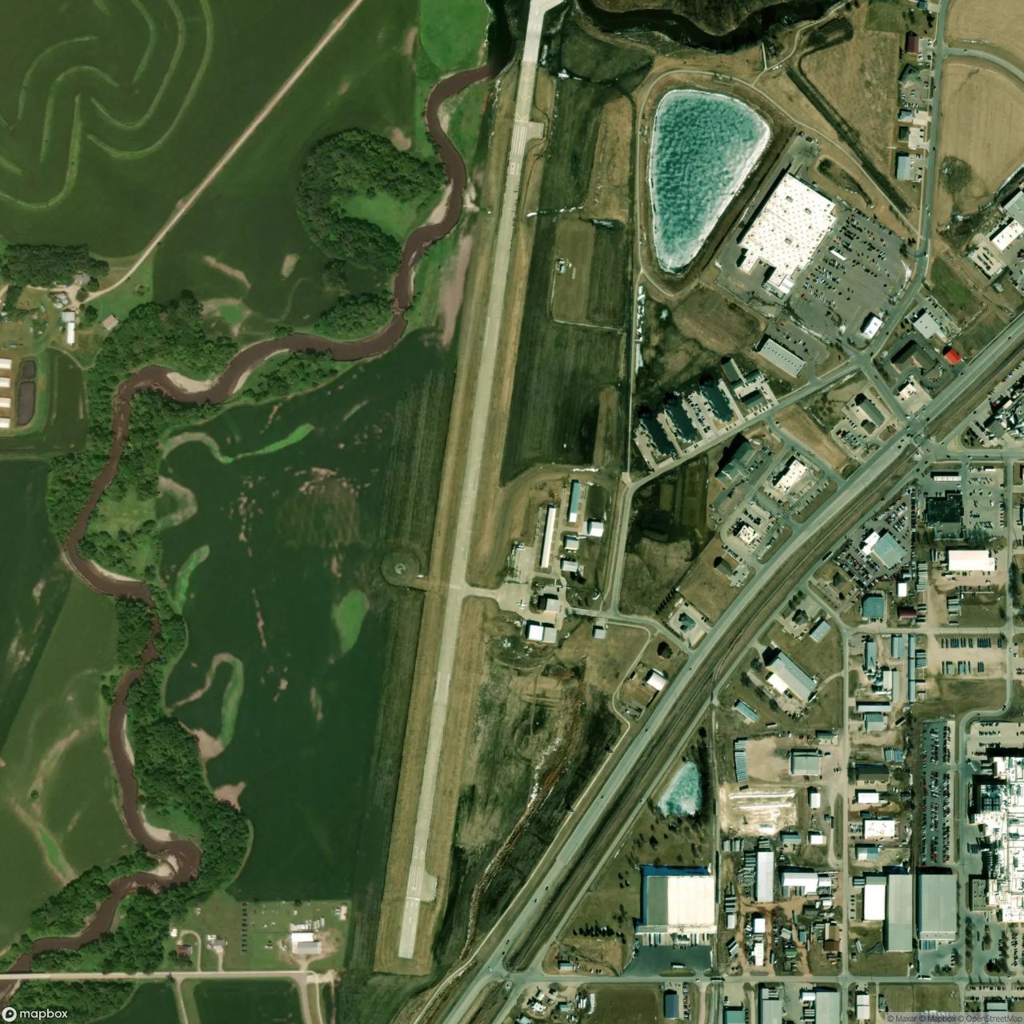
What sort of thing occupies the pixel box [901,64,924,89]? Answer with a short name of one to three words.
house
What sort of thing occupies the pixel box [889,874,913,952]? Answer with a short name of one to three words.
building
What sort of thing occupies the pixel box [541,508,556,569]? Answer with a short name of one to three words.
hangar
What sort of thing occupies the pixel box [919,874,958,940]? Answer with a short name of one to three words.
building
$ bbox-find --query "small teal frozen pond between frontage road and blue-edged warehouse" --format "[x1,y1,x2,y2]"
[657,760,702,816]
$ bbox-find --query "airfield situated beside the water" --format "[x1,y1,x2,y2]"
[399,0,606,959]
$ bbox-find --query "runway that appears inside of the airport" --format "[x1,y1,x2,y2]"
[399,0,546,959]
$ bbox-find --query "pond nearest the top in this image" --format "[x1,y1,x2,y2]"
[649,89,770,273]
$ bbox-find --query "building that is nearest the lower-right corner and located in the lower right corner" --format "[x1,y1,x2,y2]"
[986,1002,1008,1021]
